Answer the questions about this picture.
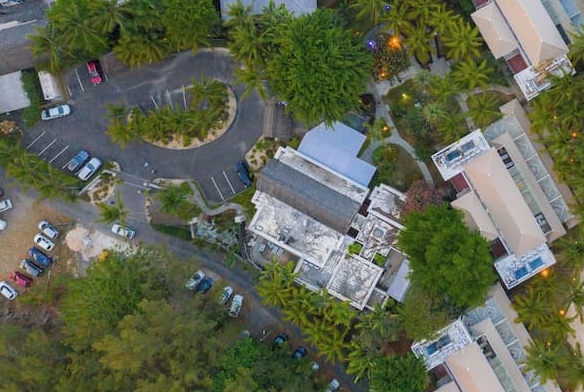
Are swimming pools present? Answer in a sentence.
No, the frame has no swimming pool in it.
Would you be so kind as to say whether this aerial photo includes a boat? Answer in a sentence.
No, there isn't any boat down there.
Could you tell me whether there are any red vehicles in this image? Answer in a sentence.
Yes, there's a red vehicle here.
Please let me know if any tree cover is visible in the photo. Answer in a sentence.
Yes, there is tree cover in the image.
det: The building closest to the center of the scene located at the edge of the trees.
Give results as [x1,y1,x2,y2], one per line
[248,121,418,310]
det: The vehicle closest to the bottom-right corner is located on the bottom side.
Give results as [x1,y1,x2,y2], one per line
[321,378,341,392]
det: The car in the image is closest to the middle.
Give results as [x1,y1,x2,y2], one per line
[232,159,251,187]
